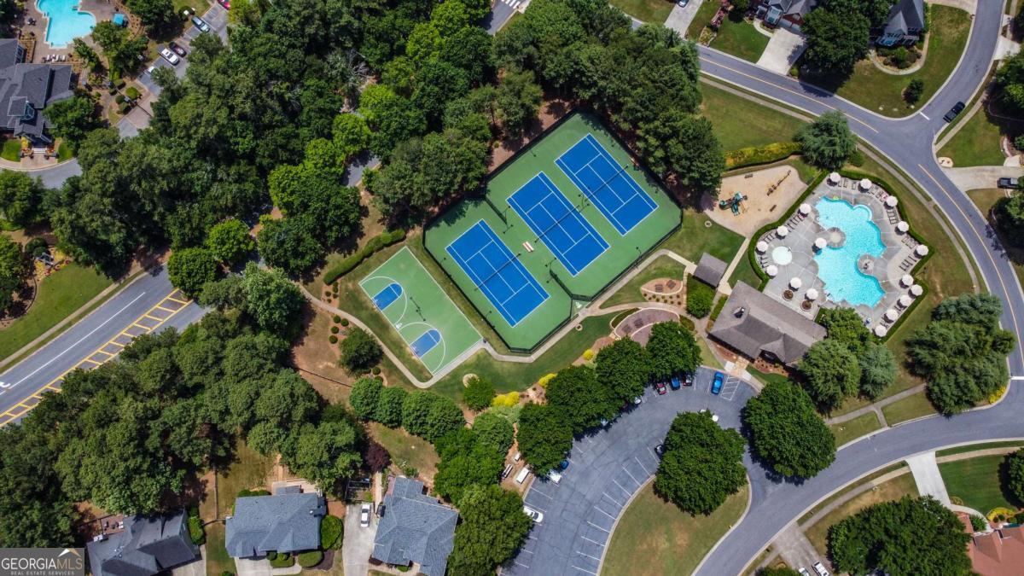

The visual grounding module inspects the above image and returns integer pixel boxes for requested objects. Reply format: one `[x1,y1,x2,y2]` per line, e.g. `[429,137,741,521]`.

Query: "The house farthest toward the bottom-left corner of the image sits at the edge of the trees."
[88,509,199,576]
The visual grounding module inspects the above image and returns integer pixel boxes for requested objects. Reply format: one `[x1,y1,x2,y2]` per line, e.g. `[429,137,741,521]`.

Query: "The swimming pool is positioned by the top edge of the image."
[35,0,97,50]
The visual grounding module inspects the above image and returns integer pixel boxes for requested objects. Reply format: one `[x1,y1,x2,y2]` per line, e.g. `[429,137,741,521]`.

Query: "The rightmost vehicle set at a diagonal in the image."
[944,99,965,122]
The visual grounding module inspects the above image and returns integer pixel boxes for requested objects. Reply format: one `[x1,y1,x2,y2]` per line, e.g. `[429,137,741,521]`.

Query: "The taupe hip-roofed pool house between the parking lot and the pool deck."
[708,280,824,376]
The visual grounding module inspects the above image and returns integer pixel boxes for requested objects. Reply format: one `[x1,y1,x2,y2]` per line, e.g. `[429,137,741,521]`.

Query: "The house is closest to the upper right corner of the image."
[875,0,928,48]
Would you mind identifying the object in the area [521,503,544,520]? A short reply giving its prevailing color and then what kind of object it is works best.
white car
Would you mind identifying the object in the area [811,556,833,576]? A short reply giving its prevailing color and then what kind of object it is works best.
white vehicle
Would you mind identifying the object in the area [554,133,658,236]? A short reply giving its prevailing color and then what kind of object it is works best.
blue tennis court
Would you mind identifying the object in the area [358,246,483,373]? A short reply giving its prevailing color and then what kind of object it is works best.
green basketball court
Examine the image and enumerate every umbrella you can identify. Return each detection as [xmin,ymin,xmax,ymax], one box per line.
[885,309,898,321]
[765,265,778,277]
[915,244,928,256]
[829,172,841,183]
[909,284,923,297]
[798,203,811,215]
[859,178,872,190]
[898,295,911,307]
[805,288,819,300]
[873,325,887,337]
[756,240,768,253]
[900,274,914,286]
[896,221,909,233]
[776,225,788,237]
[885,195,898,207]
[789,278,802,289]
[814,237,827,249]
